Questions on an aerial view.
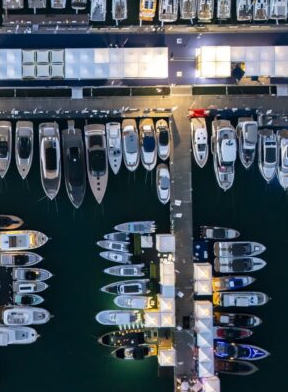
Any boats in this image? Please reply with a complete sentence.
Yes, the frame does contain a boat.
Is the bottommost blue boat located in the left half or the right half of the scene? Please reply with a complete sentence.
It is on the right.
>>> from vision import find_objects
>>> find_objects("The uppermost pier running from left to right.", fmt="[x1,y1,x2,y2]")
[2,12,89,25]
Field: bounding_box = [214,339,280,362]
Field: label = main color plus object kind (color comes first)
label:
blue boat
